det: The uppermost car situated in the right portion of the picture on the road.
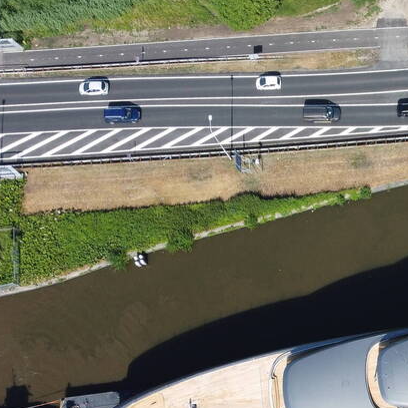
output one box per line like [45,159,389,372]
[256,73,283,90]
